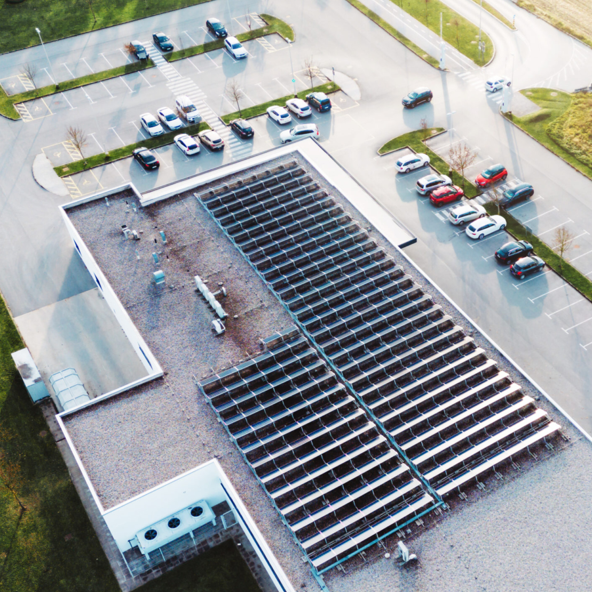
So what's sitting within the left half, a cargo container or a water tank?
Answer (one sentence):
Looking within the left half, you will find a cargo container.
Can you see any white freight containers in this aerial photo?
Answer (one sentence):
Yes, I can see a white freight container in this picture.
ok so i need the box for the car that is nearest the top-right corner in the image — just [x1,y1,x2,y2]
[485,76,512,94]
